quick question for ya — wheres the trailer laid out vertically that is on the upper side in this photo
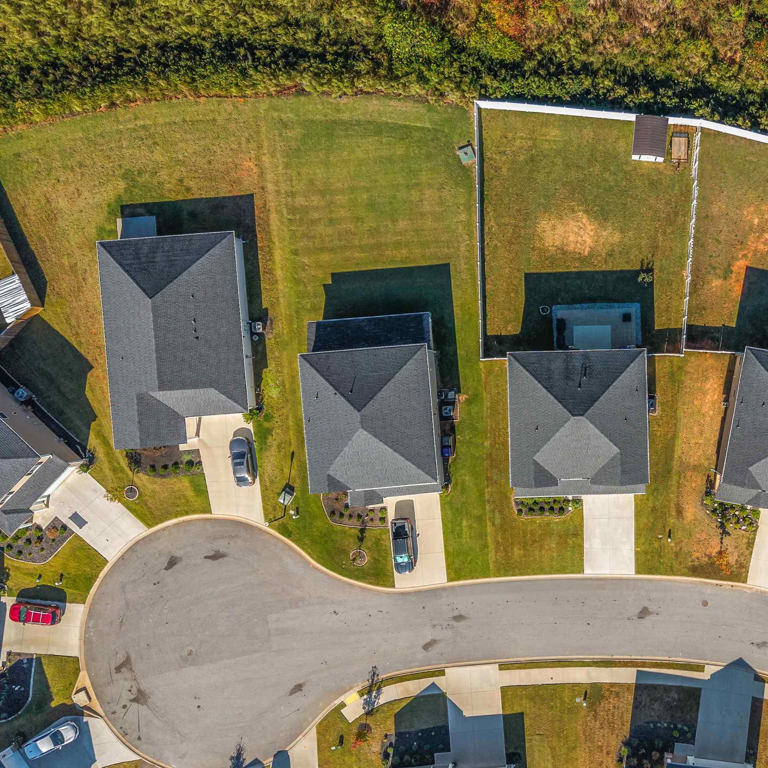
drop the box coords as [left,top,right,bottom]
[669,121,691,174]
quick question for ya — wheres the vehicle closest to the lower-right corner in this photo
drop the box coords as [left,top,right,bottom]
[392,515,418,574]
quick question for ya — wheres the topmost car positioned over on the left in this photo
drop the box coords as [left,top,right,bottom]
[230,435,258,486]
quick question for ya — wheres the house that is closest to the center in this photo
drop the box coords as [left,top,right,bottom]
[298,312,443,507]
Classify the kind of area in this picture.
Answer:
residential area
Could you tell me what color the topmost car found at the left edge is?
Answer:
red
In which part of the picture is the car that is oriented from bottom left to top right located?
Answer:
bottom left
